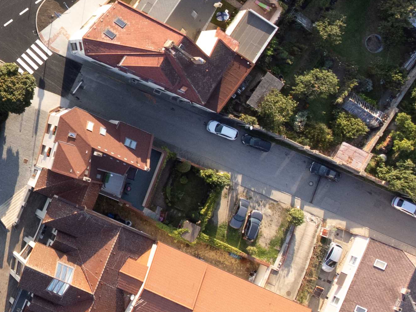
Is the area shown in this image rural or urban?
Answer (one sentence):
This place is urban.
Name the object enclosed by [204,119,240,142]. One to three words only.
car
